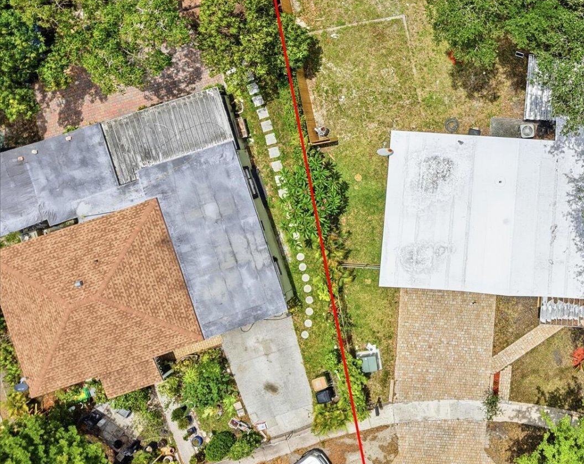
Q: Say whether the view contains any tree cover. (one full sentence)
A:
Yes, tree cover can be seen from above here.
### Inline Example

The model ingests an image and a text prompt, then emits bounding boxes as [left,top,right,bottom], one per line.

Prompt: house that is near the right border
[379,116,584,300]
